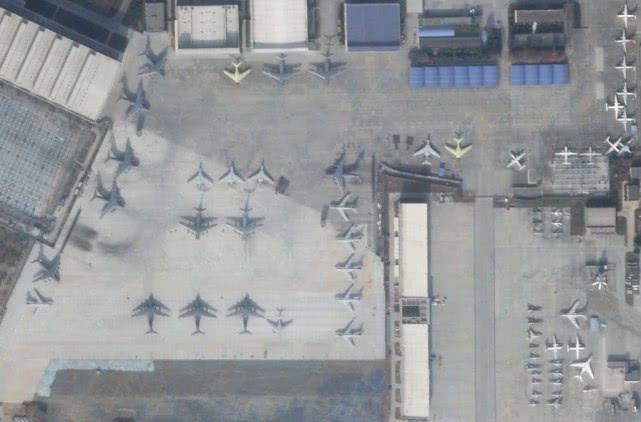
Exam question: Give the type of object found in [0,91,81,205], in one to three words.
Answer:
shed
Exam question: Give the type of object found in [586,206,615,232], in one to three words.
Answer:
building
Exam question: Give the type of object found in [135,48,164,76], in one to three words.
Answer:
airplane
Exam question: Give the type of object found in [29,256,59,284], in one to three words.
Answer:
airplane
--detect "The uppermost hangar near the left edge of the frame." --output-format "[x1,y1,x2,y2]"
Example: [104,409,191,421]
[0,6,121,122]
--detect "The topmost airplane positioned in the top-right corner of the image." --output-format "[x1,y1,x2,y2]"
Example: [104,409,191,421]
[619,5,637,27]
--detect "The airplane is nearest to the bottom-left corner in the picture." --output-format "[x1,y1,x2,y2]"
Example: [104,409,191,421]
[26,292,53,316]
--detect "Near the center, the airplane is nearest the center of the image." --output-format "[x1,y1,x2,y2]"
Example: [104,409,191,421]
[331,195,357,220]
